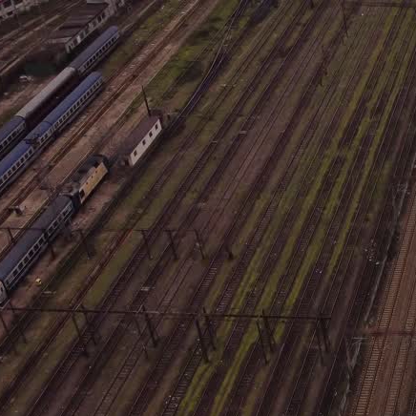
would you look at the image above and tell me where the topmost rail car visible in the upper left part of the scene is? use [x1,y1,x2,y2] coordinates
[68,27,124,81]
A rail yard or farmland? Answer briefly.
rail yard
